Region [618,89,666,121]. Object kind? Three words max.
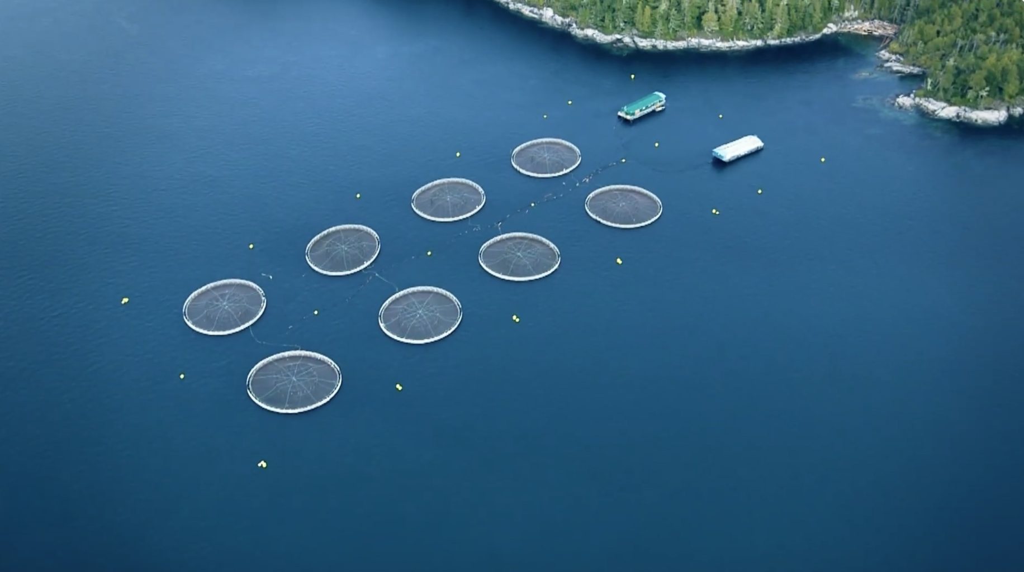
ship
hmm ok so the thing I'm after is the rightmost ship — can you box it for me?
[714,133,765,163]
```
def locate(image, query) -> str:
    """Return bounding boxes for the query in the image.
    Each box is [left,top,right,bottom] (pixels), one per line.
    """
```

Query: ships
[714,133,765,163]
[618,89,666,121]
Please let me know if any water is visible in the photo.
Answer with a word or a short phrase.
Yes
